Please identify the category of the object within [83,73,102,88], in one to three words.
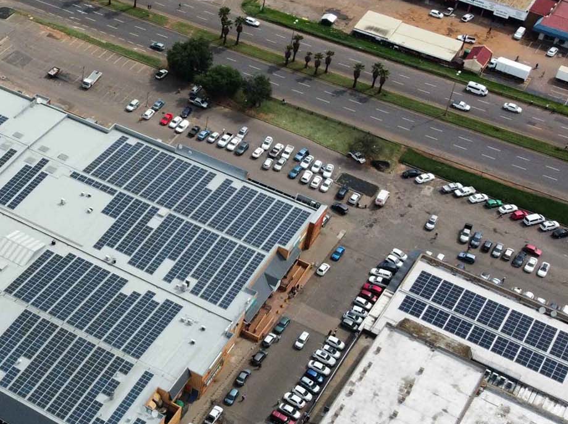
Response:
vehicle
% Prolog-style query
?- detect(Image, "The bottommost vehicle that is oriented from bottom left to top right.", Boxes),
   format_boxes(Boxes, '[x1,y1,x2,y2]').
[204,406,223,424]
